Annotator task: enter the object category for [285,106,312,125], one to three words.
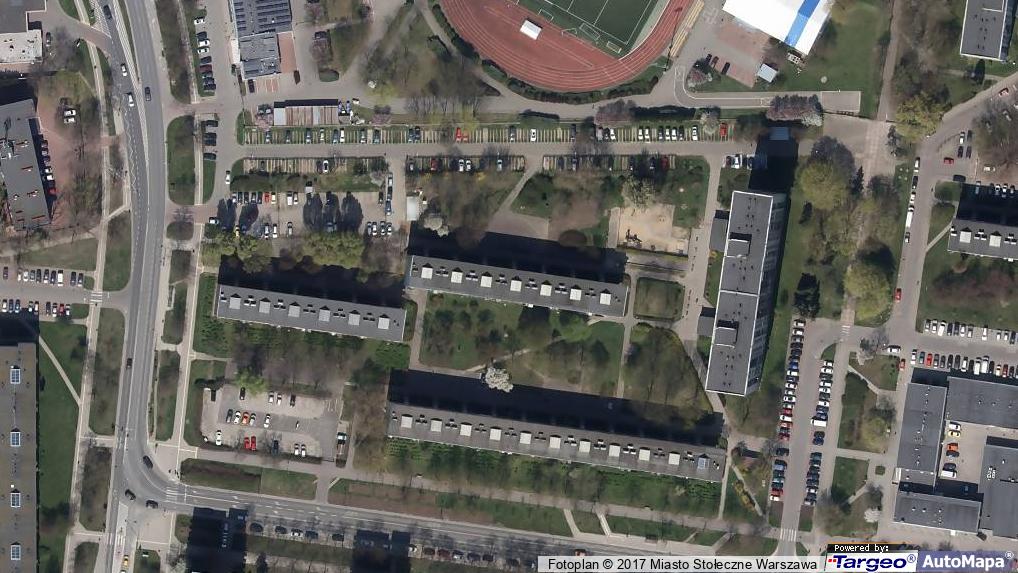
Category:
building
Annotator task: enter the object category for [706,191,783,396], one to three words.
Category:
building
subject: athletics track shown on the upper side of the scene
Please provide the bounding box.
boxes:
[439,0,699,95]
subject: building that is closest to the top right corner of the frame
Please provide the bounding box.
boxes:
[959,0,1012,61]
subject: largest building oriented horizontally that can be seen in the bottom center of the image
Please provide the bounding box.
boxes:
[388,403,732,482]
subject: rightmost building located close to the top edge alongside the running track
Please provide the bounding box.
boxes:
[722,0,836,55]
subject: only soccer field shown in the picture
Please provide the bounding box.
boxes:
[520,0,669,60]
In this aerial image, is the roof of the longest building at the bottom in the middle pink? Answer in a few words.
No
